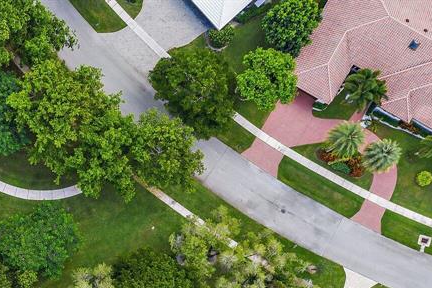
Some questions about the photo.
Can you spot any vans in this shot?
No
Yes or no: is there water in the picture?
No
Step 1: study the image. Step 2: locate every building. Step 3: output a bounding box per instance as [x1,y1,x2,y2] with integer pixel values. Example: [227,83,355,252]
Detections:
[186,0,250,29]
[293,0,432,133]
